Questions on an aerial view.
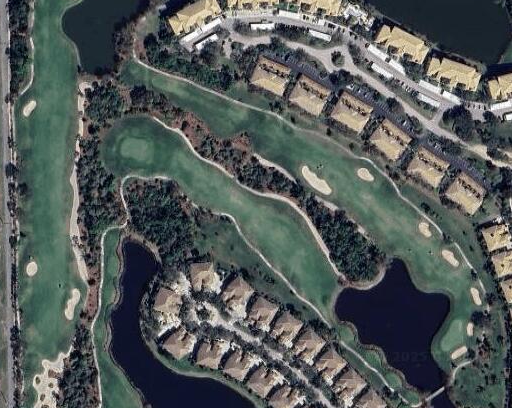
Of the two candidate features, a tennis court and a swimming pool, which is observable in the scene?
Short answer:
swimming pool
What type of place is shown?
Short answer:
golf course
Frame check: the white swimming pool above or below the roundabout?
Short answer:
above it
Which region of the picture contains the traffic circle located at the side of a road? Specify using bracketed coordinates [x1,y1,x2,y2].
[267,34,365,81]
